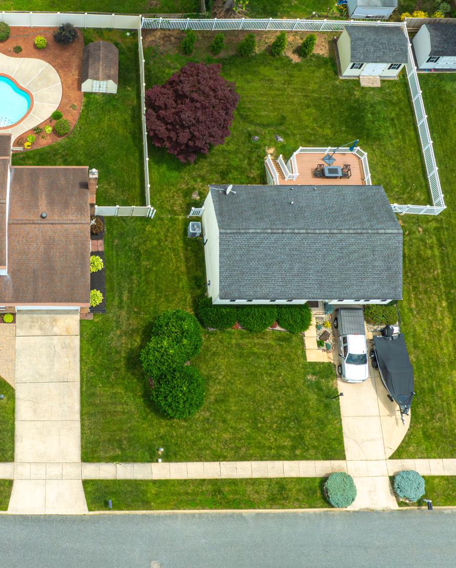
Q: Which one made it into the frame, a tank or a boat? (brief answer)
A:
boat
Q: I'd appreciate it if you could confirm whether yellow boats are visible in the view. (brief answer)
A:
No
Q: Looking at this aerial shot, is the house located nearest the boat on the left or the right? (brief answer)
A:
right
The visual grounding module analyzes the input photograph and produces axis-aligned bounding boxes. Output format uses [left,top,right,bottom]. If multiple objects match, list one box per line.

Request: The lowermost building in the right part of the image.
[204,183,404,304]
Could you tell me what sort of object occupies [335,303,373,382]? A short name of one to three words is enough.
truck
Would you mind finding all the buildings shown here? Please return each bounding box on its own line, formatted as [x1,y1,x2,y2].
[82,37,119,92]
[332,26,411,90]
[411,24,456,72]
[346,0,399,17]
[0,132,99,315]
[204,183,404,304]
